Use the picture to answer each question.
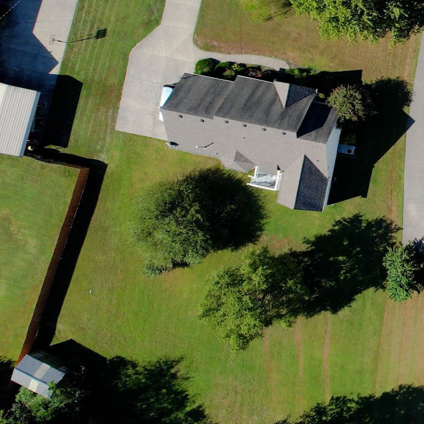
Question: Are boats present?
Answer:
No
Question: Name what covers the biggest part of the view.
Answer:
grass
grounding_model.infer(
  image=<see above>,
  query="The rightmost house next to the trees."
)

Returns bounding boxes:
[161,72,344,212]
